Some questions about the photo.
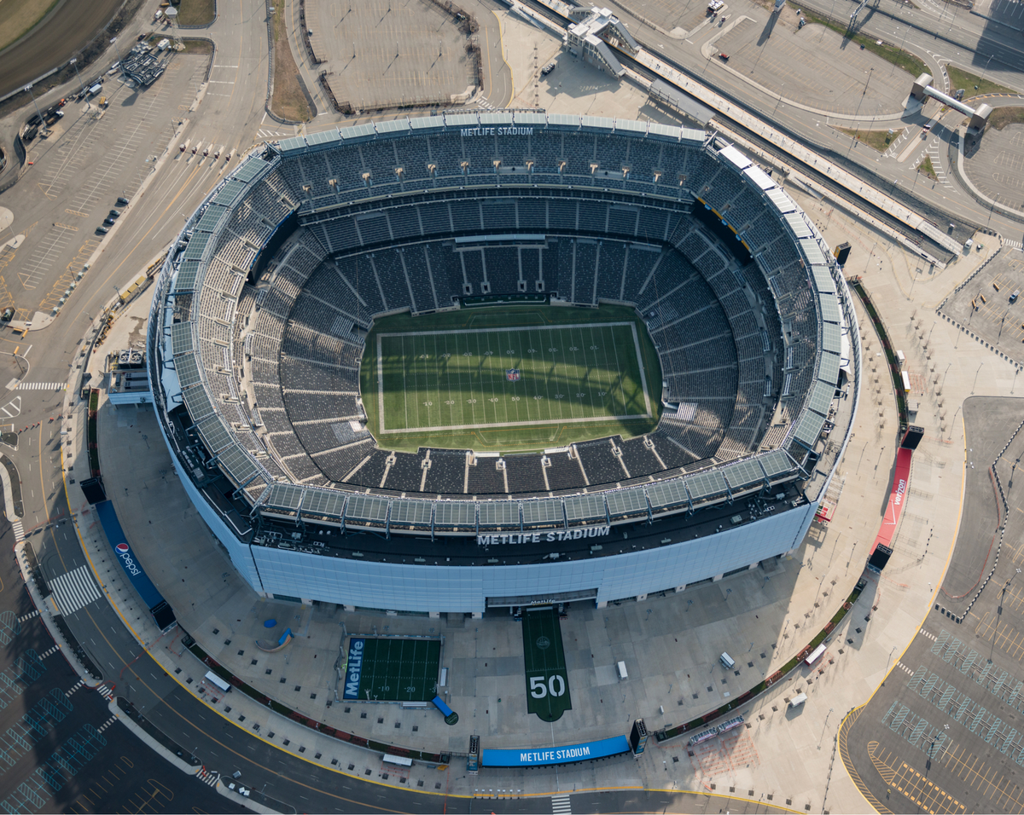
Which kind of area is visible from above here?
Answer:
sports ground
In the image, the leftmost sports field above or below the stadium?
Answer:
below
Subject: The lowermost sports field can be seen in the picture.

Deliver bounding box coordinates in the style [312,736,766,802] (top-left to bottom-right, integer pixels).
[342,637,441,701]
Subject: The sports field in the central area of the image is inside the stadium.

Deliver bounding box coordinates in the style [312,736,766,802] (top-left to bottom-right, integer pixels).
[381,324,648,429]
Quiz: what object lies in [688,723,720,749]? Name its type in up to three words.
car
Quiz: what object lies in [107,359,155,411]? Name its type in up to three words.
building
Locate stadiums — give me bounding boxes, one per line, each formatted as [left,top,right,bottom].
[149,107,863,619]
